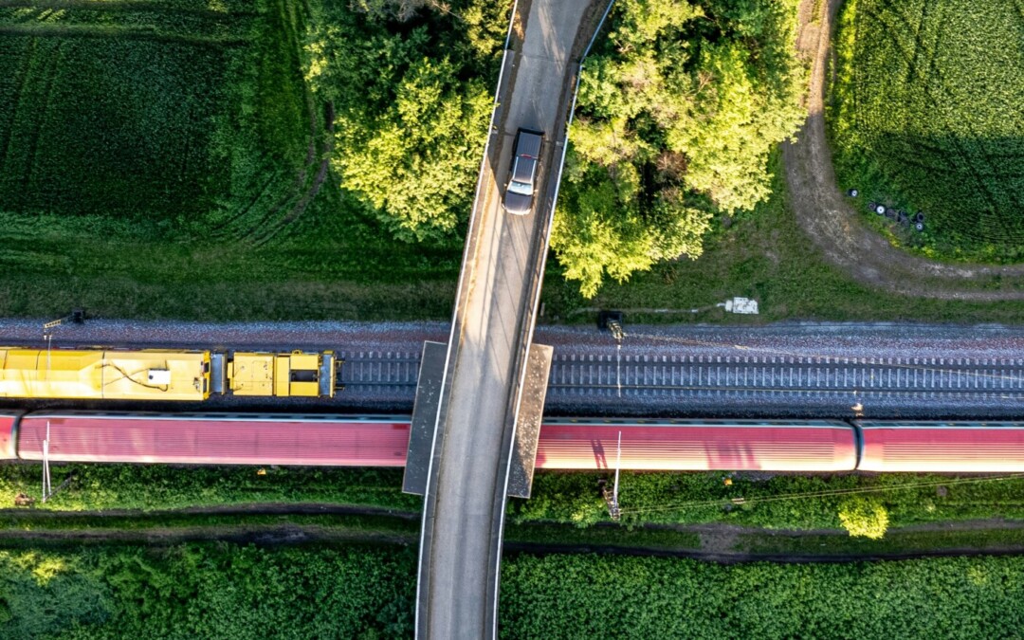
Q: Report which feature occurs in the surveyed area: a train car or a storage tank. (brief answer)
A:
train car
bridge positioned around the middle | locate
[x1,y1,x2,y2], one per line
[402,50,583,640]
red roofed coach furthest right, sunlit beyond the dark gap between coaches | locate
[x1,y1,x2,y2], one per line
[847,419,1024,471]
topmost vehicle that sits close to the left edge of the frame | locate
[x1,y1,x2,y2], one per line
[0,344,232,403]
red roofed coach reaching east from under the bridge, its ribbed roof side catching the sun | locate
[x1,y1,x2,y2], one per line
[534,415,858,470]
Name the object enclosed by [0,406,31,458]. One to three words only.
rail car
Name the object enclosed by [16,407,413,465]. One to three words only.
rail car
